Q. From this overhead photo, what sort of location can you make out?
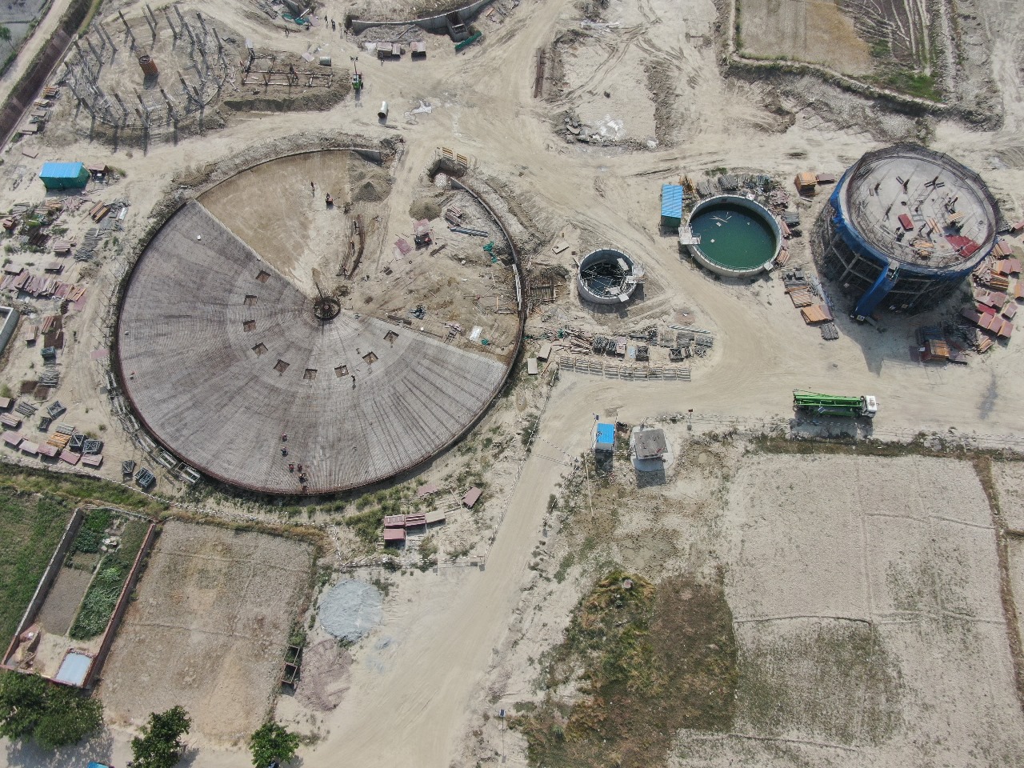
industrial area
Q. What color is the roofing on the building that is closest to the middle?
blue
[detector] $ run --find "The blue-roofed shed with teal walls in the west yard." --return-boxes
[33,161,96,190]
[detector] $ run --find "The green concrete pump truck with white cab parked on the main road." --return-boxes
[791,391,885,422]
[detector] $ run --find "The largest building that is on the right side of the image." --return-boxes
[631,425,673,470]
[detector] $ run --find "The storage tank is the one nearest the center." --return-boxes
[118,148,523,495]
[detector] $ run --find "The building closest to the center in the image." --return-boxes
[594,423,615,450]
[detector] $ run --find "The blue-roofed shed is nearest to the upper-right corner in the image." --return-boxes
[659,183,683,229]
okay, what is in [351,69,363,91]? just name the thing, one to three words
vehicle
